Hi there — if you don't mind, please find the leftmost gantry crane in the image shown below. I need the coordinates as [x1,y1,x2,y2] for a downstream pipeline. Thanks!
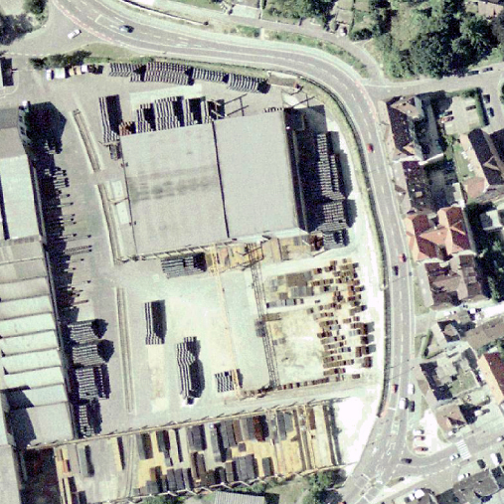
[212,251,256,398]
